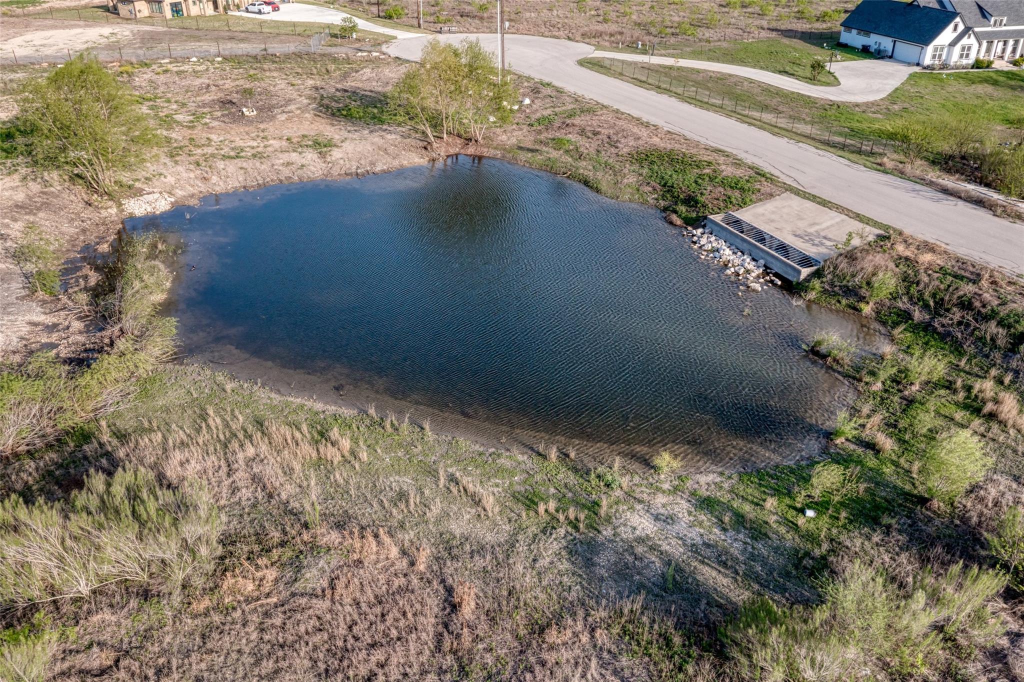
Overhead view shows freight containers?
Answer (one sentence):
No, there's no freight container here.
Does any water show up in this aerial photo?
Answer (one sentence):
Yes, water shows up in the scene.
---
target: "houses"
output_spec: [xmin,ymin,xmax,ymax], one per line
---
[105,0,273,19]
[838,0,1024,66]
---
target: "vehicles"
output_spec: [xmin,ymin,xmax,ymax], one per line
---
[242,1,273,14]
[264,1,284,12]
